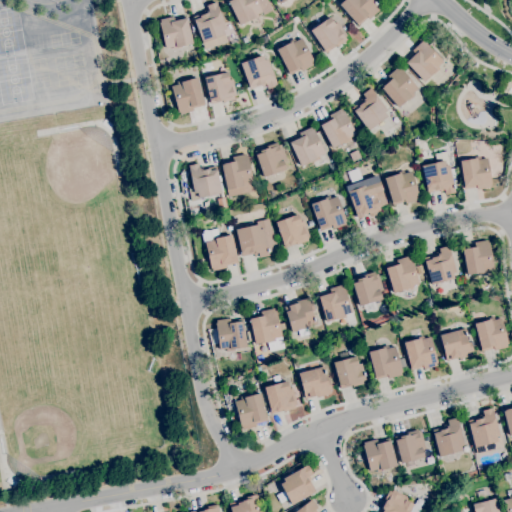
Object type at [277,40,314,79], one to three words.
house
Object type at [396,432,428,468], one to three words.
house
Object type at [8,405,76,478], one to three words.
baseball field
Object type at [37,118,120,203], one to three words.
baseball field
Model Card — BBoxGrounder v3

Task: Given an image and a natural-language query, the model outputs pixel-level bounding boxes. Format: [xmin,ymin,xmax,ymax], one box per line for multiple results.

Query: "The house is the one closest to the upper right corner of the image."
[408,40,448,81]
